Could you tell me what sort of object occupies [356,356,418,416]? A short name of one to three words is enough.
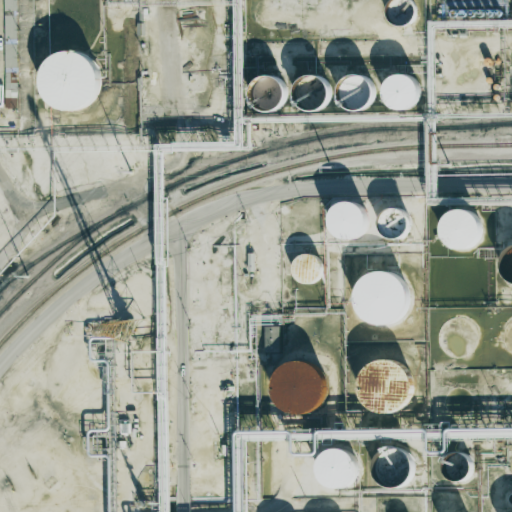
storage tank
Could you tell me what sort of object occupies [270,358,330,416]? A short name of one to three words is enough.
storage tank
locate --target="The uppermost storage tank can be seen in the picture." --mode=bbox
[384,0,420,30]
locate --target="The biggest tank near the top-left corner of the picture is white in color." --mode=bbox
[37,48,104,114]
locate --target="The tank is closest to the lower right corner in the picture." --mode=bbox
[439,450,477,486]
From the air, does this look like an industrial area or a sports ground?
industrial area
